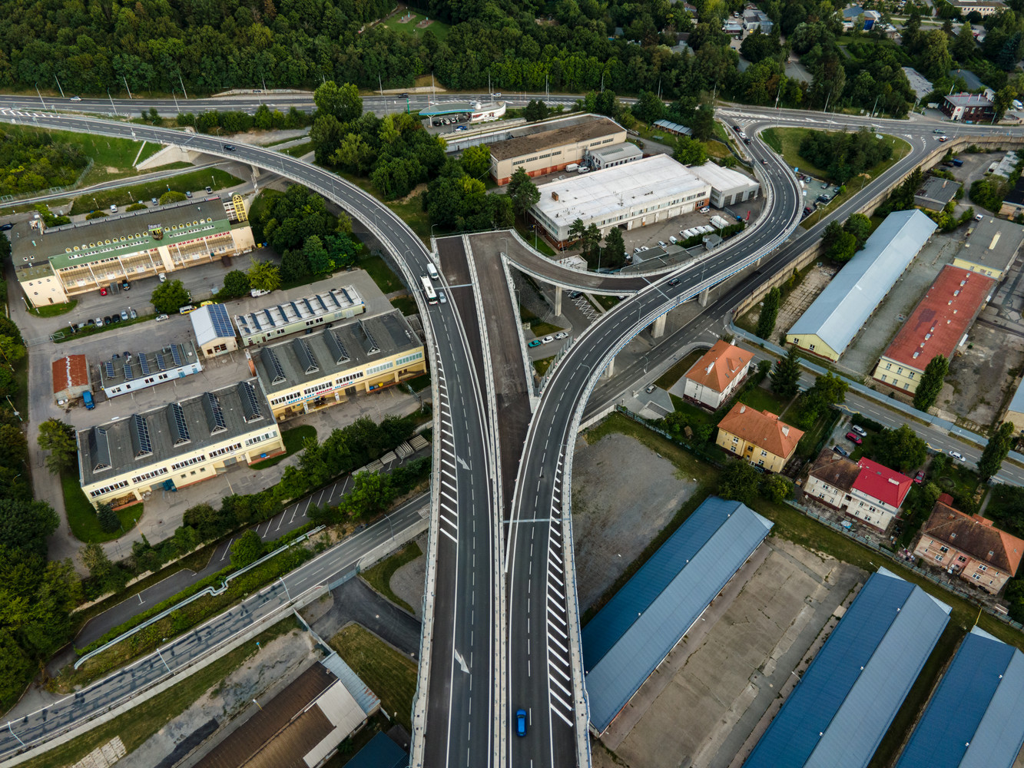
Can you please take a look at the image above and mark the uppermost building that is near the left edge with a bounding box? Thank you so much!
[19,189,258,307]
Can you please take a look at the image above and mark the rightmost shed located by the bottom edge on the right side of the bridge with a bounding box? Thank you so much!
[886,626,1024,768]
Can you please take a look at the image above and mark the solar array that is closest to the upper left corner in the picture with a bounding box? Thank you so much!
[208,303,237,336]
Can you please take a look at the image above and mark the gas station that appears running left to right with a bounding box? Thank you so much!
[422,101,506,132]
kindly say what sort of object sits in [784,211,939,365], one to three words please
shed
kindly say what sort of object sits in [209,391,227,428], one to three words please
solar array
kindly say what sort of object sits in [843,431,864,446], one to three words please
car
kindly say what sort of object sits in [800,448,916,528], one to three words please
house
